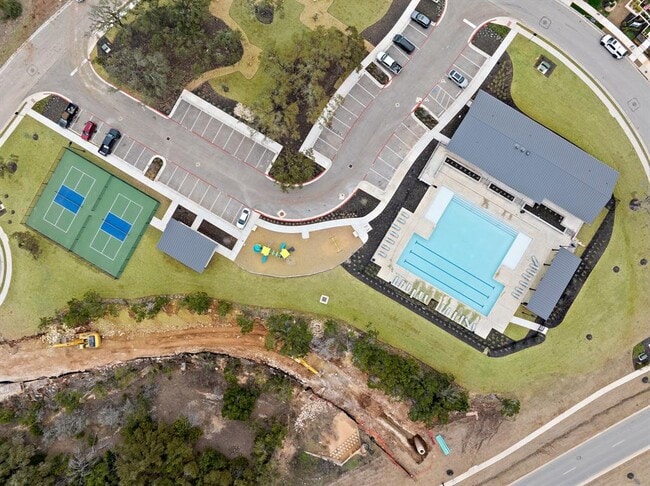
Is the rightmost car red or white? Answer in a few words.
white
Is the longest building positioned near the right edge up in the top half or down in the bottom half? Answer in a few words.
top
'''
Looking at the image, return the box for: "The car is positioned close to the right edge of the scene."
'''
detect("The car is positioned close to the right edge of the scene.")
[600,37,627,58]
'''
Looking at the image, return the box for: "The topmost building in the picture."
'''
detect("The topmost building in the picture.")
[446,89,620,225]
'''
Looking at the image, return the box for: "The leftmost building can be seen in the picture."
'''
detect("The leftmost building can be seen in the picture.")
[156,217,217,273]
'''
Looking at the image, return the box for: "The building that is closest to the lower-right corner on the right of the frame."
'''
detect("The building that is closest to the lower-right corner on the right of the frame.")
[526,246,581,320]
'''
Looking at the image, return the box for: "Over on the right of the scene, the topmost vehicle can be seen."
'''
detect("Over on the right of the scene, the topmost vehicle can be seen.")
[409,11,431,30]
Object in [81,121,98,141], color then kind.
red car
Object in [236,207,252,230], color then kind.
white car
